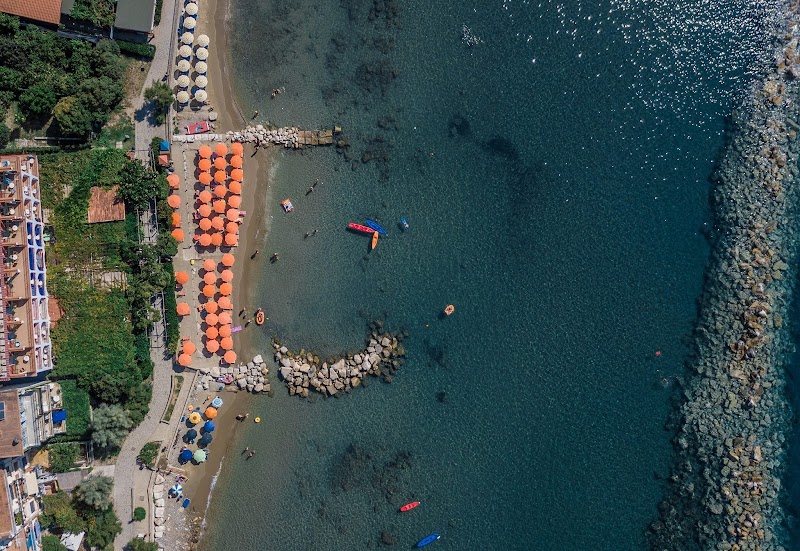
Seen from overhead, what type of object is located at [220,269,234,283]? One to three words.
umbrella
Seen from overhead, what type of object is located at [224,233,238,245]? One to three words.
umbrella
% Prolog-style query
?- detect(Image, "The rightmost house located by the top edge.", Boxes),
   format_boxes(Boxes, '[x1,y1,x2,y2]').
[115,0,166,41]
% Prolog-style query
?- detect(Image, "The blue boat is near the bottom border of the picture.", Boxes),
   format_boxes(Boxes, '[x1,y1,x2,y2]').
[416,534,440,546]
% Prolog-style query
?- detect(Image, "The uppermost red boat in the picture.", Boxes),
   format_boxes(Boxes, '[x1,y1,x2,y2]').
[186,120,209,134]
